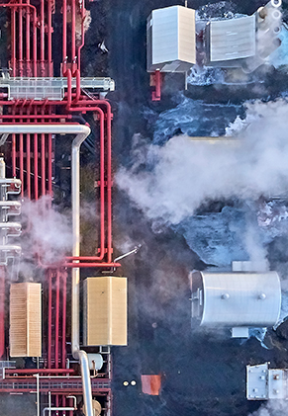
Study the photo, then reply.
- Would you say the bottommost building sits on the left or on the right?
right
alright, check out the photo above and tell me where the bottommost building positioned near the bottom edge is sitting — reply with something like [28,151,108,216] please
[238,363,288,400]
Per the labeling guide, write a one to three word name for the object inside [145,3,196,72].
shed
